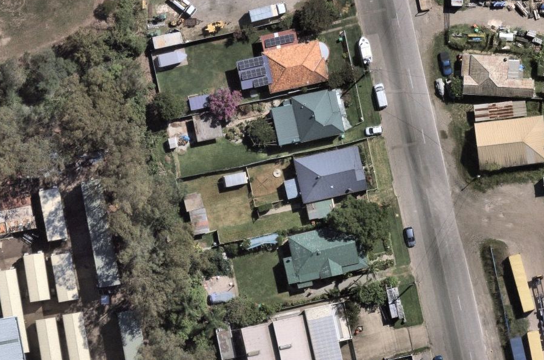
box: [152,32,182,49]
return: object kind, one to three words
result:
shed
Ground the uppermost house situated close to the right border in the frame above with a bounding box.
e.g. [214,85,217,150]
[461,54,535,97]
